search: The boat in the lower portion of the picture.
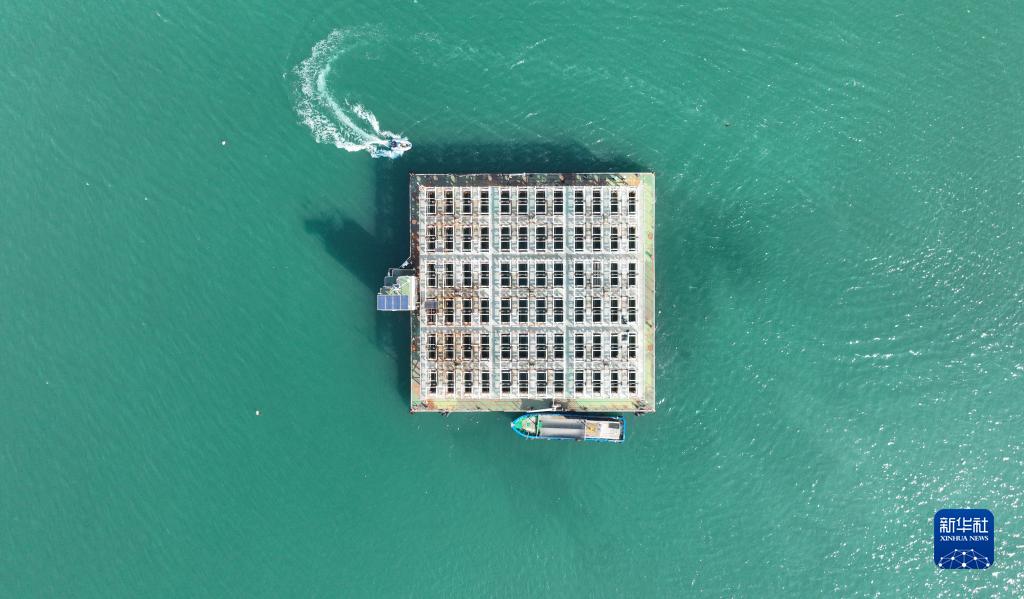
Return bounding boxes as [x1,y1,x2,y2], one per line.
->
[511,412,626,441]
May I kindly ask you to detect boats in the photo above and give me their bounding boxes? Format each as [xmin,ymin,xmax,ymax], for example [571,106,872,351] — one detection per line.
[388,139,412,150]
[511,412,626,441]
